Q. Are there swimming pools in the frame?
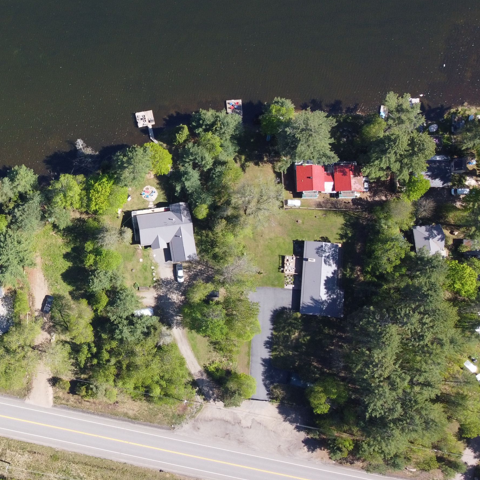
No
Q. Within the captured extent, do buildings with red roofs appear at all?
Yes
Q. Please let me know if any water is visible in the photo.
Yes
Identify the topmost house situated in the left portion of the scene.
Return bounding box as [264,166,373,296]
[136,201,199,262]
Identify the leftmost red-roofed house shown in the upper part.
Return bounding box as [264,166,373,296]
[294,164,325,199]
